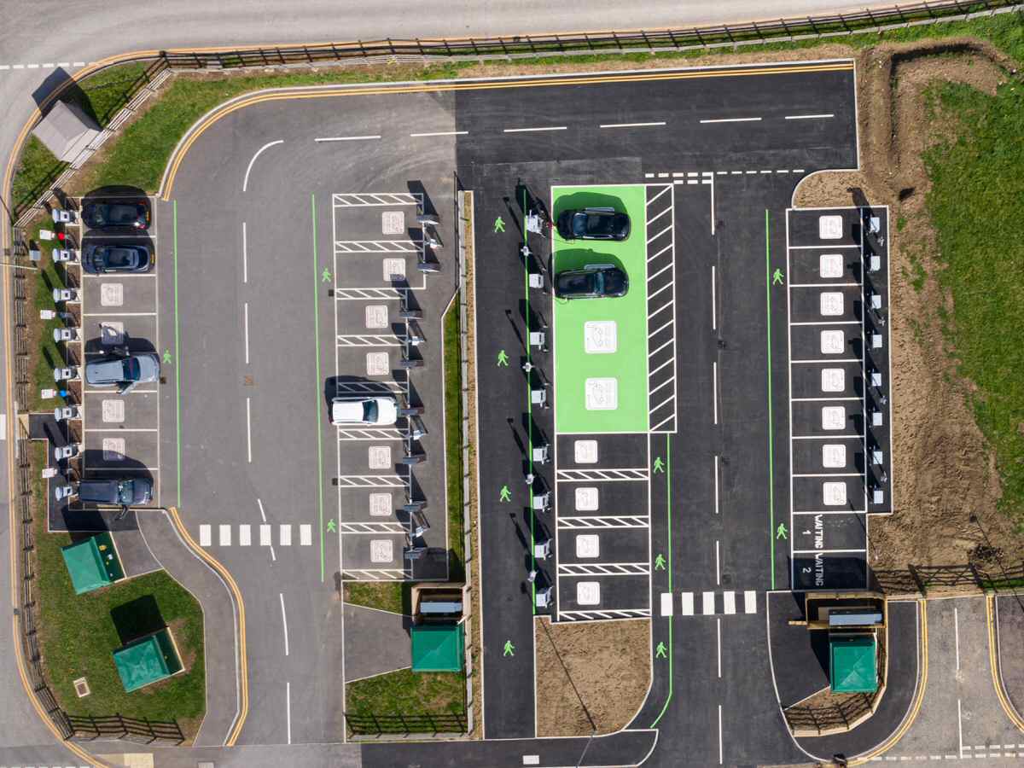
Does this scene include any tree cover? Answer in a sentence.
No, tree cover can't be seen anywhere here.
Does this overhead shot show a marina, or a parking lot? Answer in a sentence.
The area seen from above is a parking lot.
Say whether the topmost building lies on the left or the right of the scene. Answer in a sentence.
The topmost building appears in the left half of the scene.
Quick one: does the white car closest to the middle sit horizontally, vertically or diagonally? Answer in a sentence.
I'd say the white car closest to the middle is aligned horizontally in the picture.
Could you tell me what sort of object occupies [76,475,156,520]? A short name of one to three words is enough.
van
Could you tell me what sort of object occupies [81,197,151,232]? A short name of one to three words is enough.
car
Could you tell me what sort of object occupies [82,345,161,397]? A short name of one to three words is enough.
car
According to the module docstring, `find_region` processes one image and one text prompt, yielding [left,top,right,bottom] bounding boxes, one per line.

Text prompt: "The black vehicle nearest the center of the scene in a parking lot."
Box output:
[553,264,629,299]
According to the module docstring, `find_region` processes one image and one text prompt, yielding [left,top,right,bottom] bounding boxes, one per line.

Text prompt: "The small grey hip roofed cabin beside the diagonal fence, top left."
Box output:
[31,100,106,164]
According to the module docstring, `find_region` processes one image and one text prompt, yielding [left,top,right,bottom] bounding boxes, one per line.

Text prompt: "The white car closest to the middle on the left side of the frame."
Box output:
[330,394,398,429]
